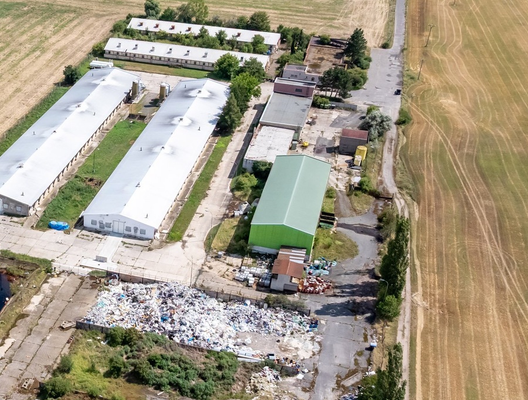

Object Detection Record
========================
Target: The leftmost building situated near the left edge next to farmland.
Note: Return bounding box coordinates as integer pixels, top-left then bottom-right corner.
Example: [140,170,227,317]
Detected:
[0,68,141,215]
